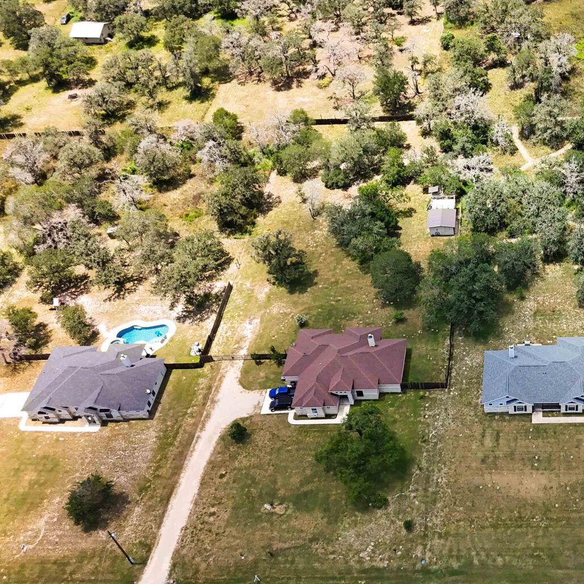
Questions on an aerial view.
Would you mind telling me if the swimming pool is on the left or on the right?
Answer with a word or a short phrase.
left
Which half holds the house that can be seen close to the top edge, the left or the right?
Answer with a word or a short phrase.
left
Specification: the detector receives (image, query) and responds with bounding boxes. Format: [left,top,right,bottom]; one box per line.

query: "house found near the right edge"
[482,337,584,414]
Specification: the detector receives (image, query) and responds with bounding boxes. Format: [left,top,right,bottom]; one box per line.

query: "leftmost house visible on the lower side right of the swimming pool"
[282,327,406,417]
